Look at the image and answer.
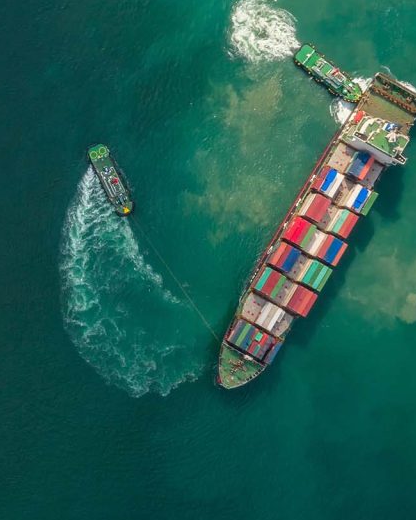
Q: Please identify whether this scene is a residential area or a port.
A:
port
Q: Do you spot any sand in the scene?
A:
No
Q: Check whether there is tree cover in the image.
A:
No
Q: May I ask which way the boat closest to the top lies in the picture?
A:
diagonally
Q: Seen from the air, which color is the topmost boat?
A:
green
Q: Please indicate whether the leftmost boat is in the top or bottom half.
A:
top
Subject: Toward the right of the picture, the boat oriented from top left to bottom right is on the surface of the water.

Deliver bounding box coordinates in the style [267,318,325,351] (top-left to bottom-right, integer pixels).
[292,42,363,104]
